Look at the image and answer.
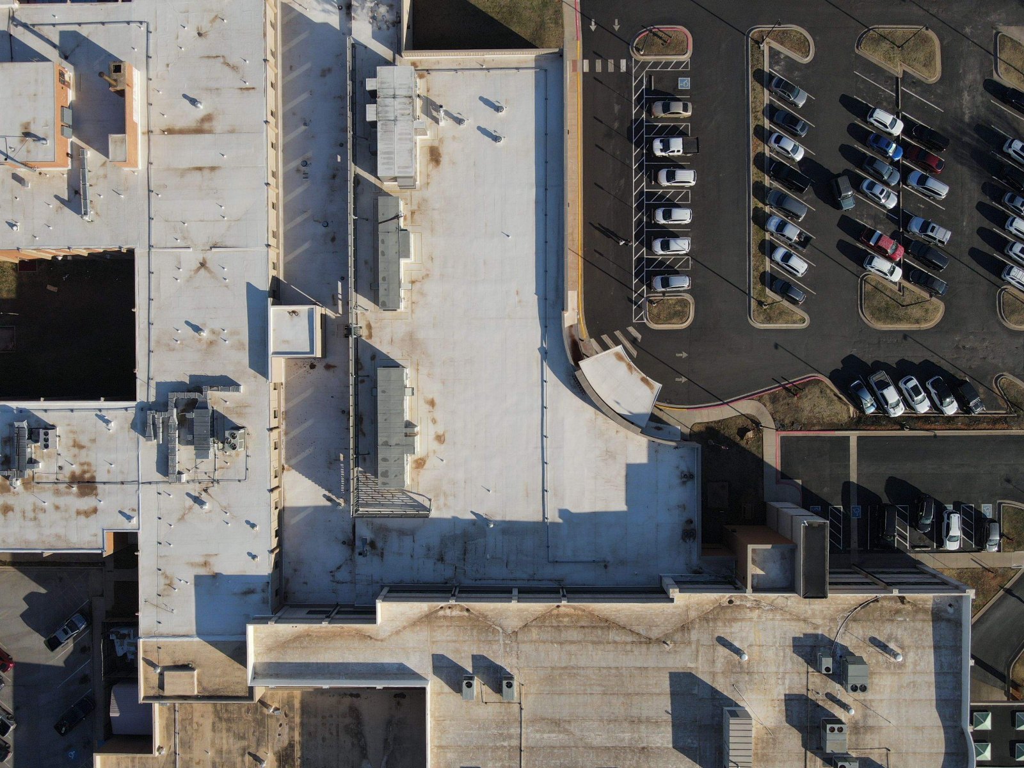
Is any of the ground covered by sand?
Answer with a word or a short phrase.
No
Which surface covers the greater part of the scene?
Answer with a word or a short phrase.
buildings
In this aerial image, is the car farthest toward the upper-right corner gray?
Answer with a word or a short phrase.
No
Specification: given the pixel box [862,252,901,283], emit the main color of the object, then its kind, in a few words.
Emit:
white car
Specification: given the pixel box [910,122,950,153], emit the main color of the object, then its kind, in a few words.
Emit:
black car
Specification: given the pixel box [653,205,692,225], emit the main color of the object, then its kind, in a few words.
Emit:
white car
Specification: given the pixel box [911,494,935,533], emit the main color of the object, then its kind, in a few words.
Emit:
black car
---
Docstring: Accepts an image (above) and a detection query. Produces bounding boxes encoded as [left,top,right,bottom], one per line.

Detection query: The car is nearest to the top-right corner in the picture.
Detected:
[998,84,1024,116]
